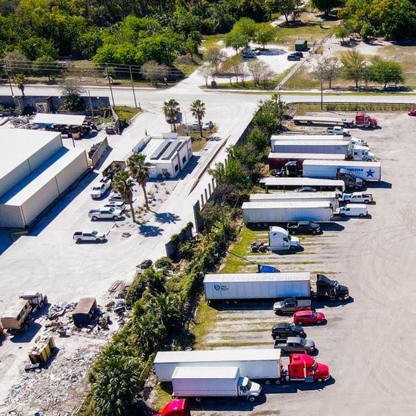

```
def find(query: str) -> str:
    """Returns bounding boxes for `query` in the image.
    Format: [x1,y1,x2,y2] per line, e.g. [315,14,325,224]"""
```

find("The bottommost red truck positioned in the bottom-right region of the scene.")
[270,349,335,384]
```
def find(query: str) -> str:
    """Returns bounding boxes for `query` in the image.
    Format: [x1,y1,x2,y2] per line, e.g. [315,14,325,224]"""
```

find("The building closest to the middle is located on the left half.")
[124,136,192,178]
